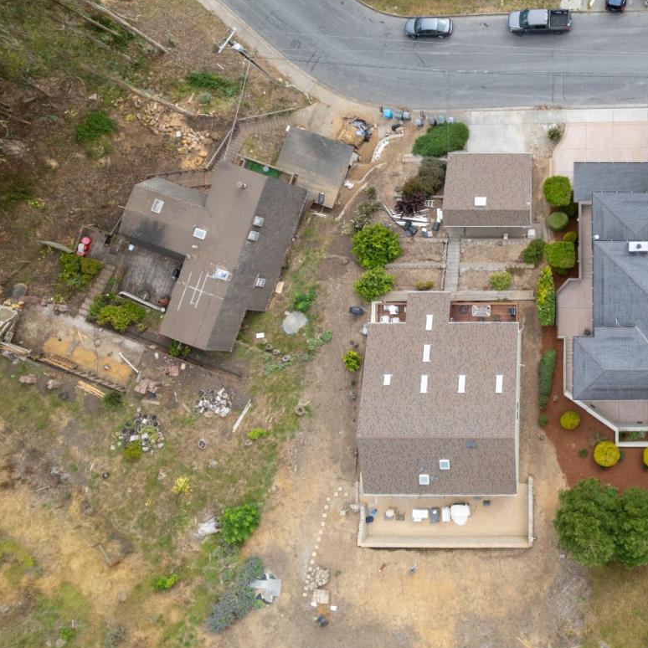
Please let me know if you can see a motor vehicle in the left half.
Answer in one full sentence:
No, in the left half there is no motor vehicle.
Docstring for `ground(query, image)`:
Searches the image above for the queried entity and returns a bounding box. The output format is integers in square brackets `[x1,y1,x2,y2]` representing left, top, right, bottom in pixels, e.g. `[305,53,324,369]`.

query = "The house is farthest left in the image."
[82,160,313,351]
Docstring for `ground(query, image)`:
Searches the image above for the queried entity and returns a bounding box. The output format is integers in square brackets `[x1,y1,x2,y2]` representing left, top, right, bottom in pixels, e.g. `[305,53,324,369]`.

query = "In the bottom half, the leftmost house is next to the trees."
[357,292,521,498]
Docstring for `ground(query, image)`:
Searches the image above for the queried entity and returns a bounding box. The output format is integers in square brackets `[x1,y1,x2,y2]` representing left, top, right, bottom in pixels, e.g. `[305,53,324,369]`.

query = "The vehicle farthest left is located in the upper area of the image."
[404,13,452,38]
